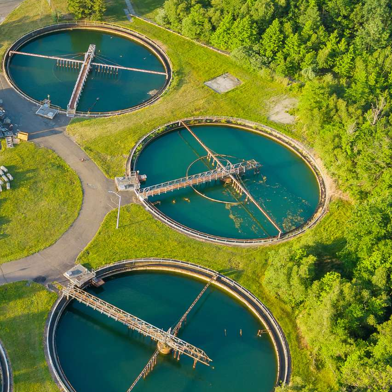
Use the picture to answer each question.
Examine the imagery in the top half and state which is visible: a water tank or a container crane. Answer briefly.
water tank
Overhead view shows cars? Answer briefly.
No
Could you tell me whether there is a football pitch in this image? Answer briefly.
No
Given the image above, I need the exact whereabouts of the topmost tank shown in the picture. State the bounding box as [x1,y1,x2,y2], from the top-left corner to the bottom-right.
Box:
[3,20,173,121]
